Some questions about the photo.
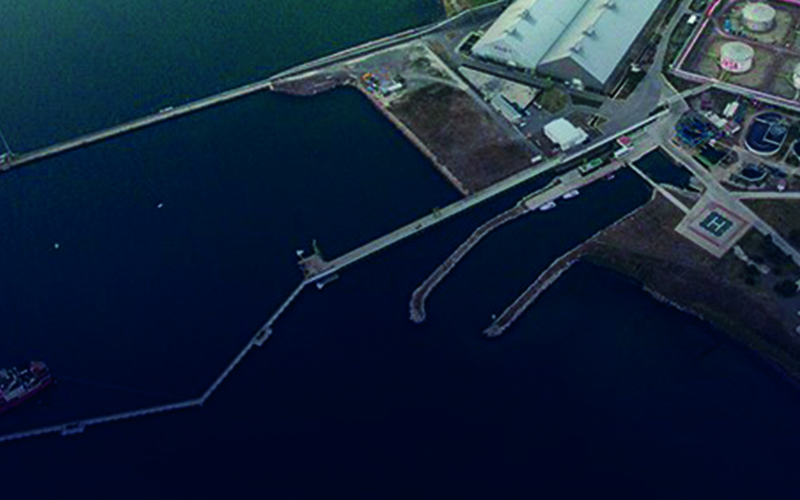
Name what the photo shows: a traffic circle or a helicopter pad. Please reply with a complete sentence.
I can see a helicopter pad in this picture.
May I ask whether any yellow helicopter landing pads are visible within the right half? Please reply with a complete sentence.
No, no yellow helicopter landing pad can be made out within the right half.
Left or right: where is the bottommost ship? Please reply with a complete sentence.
The bottommost ship is on the left side of the image.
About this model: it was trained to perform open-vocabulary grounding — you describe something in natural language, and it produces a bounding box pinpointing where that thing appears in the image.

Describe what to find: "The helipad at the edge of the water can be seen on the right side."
[676,198,751,257]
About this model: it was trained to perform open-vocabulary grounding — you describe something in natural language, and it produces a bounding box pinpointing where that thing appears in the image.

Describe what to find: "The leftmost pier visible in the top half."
[0,78,272,173]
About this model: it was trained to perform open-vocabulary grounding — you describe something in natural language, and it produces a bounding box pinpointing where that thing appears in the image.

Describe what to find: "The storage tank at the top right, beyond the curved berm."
[739,2,774,32]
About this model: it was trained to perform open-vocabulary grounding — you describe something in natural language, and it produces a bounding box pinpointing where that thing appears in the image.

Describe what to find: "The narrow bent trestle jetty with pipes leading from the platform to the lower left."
[0,280,307,445]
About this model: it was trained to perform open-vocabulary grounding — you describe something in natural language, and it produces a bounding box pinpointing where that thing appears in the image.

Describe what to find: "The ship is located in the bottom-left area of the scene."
[0,359,52,412]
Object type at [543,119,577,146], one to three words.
building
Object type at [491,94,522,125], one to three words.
shed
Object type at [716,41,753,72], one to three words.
storage tank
